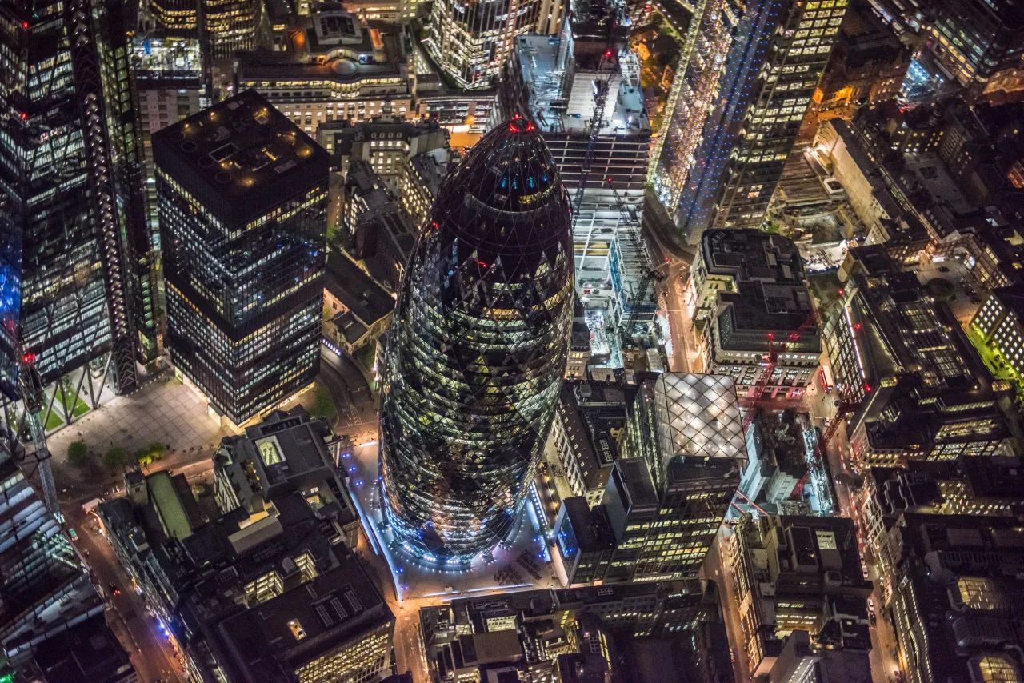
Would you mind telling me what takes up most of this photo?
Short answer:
buildings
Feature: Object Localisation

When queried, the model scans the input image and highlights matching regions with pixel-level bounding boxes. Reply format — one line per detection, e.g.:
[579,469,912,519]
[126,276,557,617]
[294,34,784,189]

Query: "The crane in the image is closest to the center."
[605,179,668,333]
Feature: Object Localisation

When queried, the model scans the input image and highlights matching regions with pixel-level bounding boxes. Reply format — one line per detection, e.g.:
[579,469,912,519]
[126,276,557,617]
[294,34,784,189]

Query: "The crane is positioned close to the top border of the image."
[583,13,618,121]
